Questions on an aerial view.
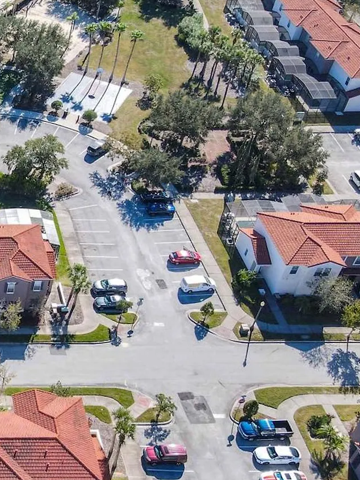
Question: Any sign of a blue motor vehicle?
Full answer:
Yes, the picture does show a blue motor vehicle.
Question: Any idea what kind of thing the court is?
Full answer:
Looking closely, the court is a basketball court.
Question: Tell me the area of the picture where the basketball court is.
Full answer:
The basketball court appears toward the top left of the photo.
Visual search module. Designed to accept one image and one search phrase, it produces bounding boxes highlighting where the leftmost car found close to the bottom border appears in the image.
[142,443,190,465]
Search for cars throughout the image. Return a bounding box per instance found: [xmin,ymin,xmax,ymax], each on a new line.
[94,295,131,311]
[354,129,360,141]
[142,443,190,465]
[177,274,218,293]
[252,445,302,467]
[166,250,203,266]
[144,203,178,217]
[82,140,112,157]
[258,469,306,480]
[349,172,360,191]
[91,277,130,295]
